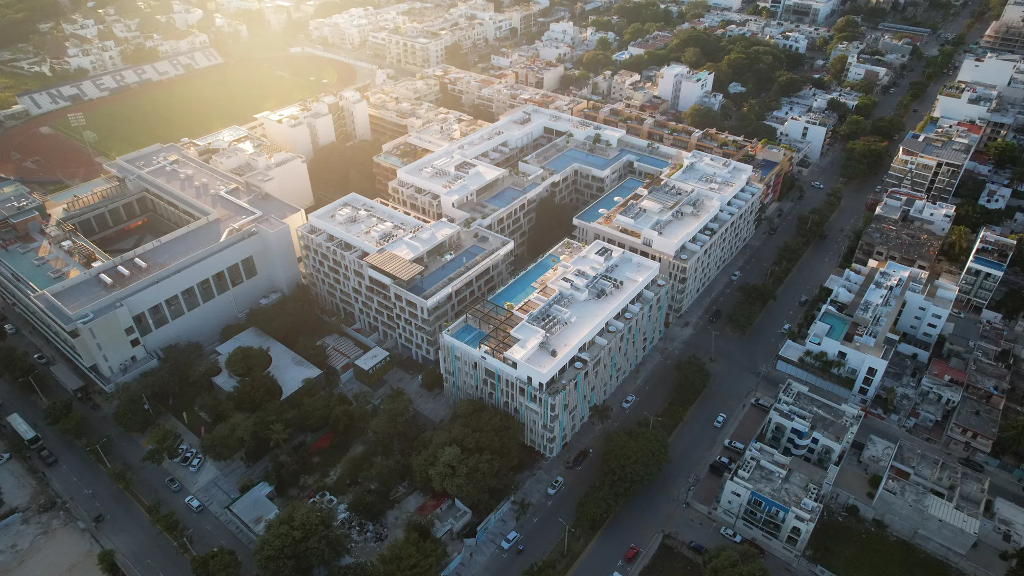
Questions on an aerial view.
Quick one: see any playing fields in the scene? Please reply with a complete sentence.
Yes, a playing field appears in the view.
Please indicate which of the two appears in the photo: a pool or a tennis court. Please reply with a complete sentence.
Looking from above, you can make out a pool.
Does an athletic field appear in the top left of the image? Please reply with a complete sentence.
Yes, looking in the top left of the image, one can make out an athletic field.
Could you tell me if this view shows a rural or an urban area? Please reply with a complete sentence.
From above, the setting appears urban.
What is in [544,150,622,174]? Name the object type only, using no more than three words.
swimming pool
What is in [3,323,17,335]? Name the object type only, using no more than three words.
vehicle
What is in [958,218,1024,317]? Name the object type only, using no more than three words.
building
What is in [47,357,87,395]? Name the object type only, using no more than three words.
truck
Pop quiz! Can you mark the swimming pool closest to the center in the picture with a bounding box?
[492,255,560,306]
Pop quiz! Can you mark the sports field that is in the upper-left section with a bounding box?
[46,62,346,162]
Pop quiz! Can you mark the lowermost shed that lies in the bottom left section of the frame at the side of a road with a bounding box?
[229,482,280,542]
